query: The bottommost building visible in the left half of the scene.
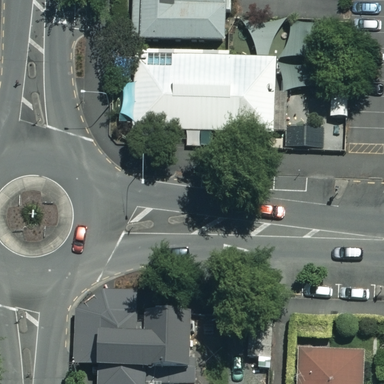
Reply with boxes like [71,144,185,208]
[73,288,195,384]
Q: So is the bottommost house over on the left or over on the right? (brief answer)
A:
right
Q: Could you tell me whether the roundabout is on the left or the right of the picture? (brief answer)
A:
left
